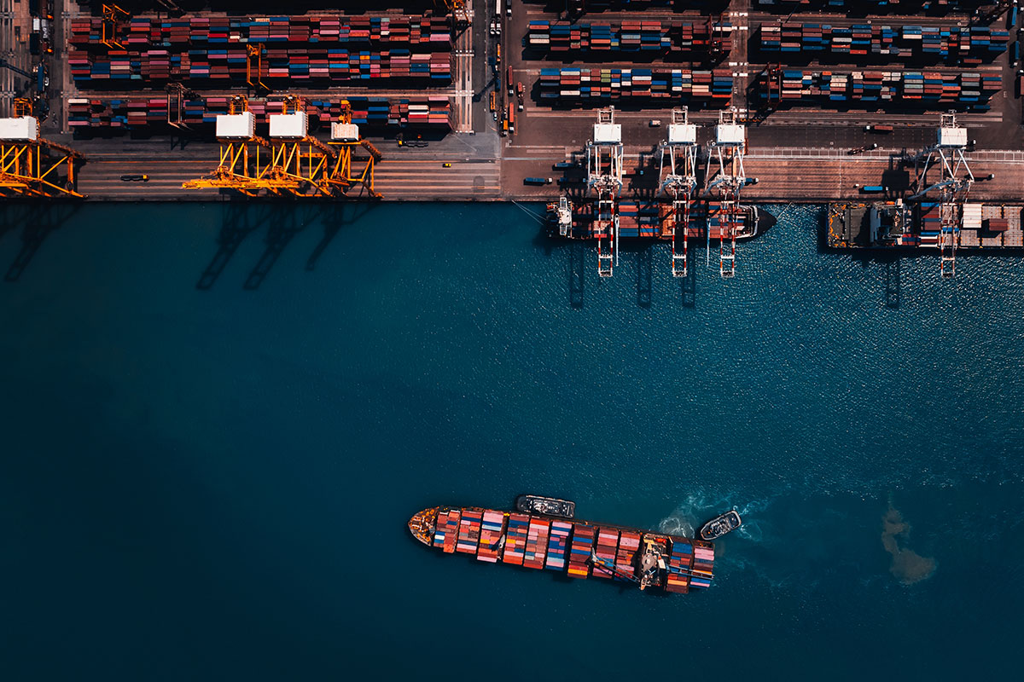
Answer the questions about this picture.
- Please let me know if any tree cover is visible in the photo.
No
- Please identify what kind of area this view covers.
port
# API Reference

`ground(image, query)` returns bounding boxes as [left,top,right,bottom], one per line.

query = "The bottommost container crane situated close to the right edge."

[896,104,986,280]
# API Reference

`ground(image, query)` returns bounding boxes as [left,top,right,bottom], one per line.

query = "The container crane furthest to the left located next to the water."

[0,100,80,195]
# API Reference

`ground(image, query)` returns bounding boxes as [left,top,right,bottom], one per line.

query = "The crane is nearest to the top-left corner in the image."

[101,2,133,51]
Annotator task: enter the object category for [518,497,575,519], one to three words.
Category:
boat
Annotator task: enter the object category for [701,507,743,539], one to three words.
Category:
boat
